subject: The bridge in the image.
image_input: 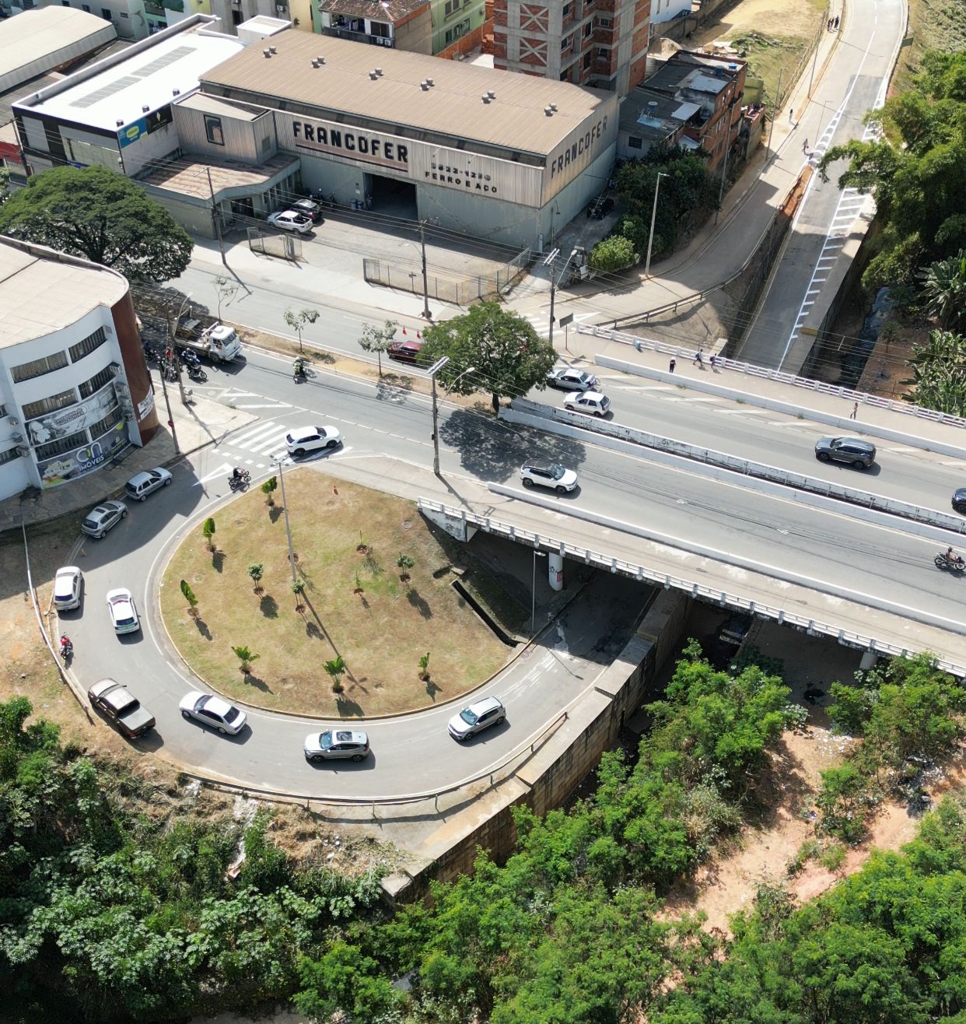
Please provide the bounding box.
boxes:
[414,326,966,707]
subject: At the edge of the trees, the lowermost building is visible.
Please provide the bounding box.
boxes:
[0,234,160,498]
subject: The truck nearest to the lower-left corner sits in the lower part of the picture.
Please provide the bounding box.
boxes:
[88,679,155,745]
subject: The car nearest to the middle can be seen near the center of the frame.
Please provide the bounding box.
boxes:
[517,459,579,495]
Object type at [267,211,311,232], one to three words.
truck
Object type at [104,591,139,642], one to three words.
car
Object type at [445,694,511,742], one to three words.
car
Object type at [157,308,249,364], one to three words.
truck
